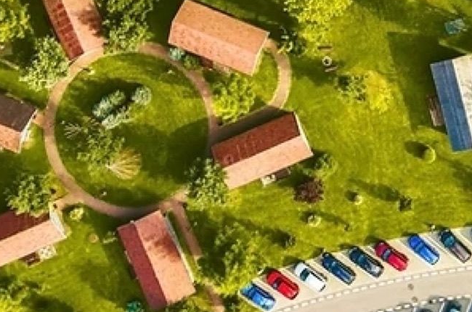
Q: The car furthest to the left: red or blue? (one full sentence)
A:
The color of the car furthest to the left is blue.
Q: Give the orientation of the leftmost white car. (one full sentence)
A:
In this picture, the leftmost white car lies on a diagonal.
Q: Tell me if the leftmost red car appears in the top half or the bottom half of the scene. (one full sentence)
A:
Seen from above, the leftmost red car lies in the bottom half of the view.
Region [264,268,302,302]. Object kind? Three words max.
car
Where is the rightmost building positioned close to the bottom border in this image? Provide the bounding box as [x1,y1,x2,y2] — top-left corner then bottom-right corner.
[117,209,197,311]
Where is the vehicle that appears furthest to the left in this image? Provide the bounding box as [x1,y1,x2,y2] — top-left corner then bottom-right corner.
[238,284,277,312]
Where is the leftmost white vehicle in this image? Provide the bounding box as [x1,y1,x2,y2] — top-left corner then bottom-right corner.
[290,259,331,297]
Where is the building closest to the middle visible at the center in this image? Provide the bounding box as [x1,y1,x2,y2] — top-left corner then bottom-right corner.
[211,111,312,189]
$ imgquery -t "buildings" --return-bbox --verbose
[211,111,312,189]
[168,2,269,76]
[0,194,71,267]
[429,54,472,152]
[117,209,197,311]
[0,91,43,154]
[43,0,110,61]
